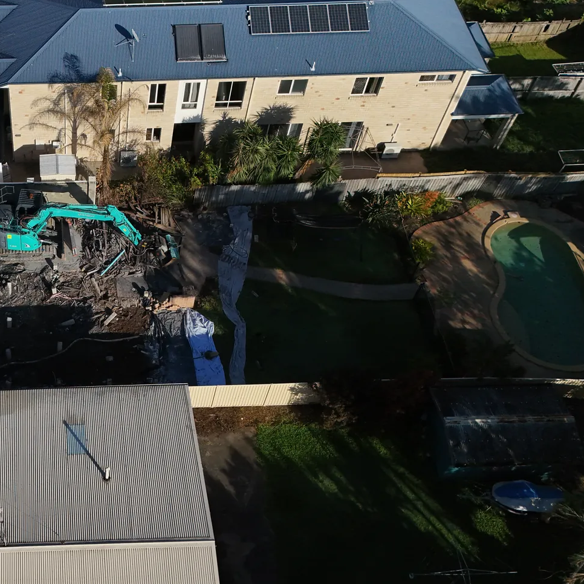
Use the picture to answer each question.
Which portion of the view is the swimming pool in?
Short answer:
right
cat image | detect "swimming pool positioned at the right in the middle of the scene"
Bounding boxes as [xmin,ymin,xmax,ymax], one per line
[485,206,584,371]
